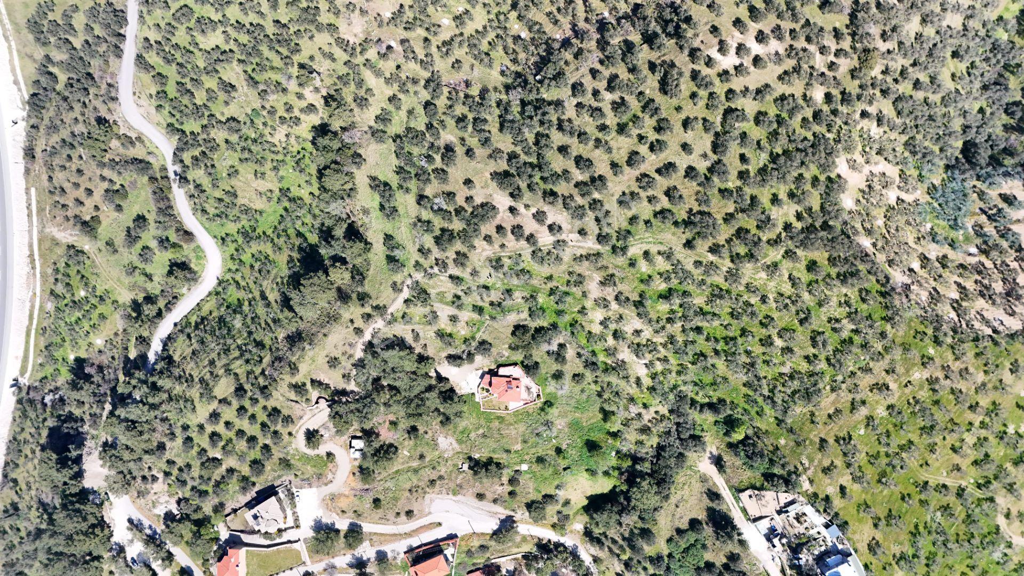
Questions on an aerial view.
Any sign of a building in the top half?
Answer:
No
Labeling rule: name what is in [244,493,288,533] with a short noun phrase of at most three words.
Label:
house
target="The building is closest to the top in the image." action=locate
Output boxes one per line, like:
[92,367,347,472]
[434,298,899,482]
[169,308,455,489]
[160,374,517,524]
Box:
[481,374,521,402]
